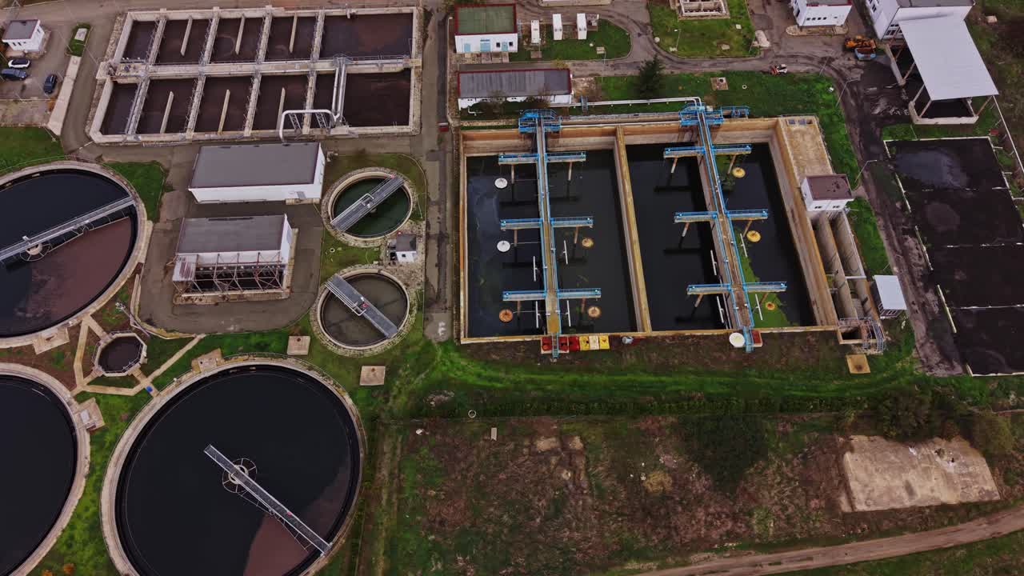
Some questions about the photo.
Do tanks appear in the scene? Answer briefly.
Yes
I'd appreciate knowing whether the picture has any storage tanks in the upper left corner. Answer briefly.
Yes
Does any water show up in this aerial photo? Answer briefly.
Yes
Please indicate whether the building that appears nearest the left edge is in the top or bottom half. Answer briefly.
top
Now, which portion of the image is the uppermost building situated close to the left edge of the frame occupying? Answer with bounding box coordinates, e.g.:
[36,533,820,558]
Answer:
[2,19,48,54]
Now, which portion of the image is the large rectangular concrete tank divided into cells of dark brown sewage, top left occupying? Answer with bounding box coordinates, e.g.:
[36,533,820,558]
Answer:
[90,4,424,148]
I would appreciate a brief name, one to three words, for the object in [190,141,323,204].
building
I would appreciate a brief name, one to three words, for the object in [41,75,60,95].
car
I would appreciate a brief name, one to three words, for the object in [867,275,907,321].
shed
